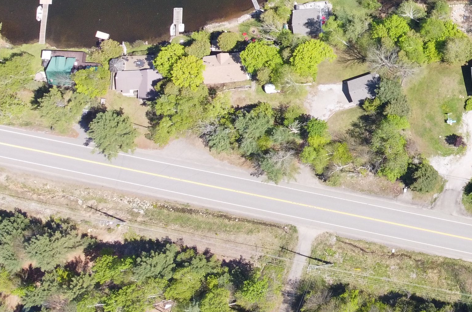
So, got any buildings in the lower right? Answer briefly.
No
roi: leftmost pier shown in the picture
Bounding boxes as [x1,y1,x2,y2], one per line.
[39,0,52,45]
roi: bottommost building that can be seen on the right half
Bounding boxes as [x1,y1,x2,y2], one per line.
[348,74,382,103]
